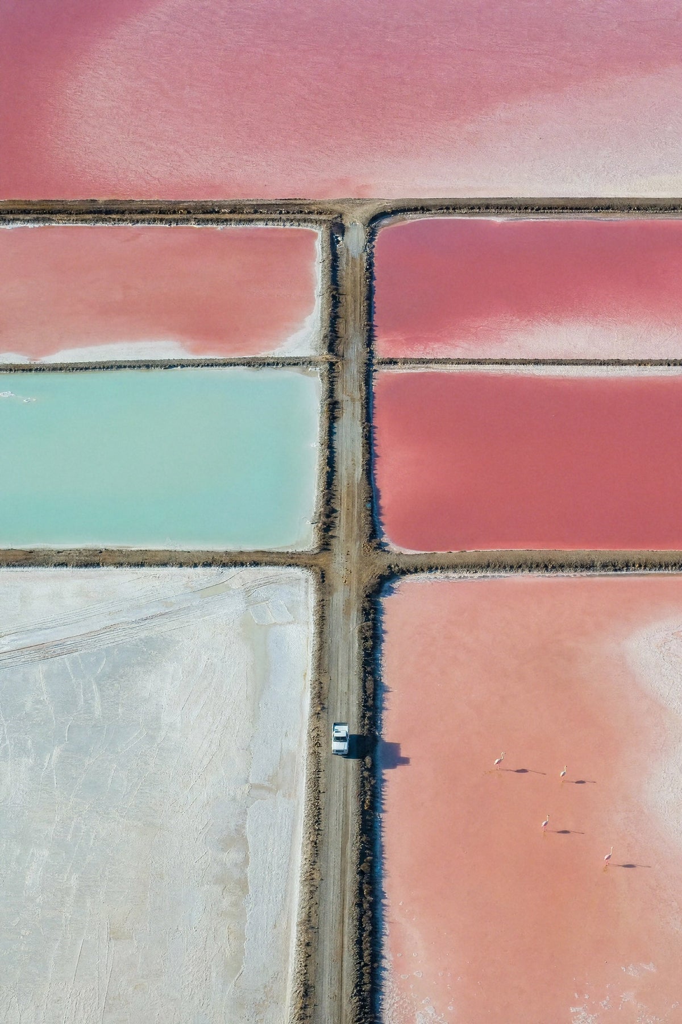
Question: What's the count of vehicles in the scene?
1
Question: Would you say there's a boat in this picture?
No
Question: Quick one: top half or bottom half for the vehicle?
bottom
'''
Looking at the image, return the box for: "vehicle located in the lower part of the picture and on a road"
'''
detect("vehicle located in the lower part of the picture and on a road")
[330,724,350,758]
